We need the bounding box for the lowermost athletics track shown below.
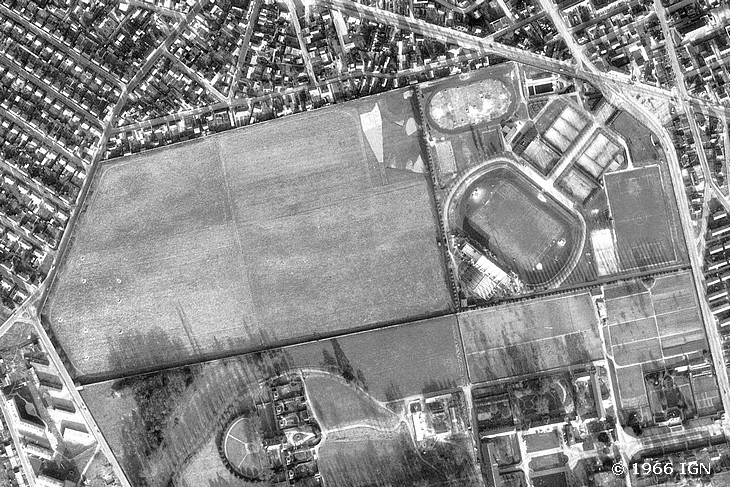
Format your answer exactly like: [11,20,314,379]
[460,173,573,277]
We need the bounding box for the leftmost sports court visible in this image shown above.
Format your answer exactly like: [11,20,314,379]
[433,138,460,176]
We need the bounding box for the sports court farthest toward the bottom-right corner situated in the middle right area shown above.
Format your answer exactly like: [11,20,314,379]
[588,225,620,280]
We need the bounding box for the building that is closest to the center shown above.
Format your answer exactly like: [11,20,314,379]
[460,265,497,299]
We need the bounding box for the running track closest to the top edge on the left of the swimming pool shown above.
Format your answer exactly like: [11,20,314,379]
[423,71,517,137]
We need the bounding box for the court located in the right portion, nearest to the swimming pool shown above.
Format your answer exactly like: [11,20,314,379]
[540,103,592,156]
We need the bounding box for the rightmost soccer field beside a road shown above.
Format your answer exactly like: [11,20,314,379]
[605,165,677,272]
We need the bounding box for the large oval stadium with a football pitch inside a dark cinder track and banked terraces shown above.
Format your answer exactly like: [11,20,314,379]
[451,163,582,287]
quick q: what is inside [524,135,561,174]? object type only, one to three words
sports court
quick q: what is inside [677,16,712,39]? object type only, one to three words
shed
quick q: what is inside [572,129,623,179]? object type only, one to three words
sports court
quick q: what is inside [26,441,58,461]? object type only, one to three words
building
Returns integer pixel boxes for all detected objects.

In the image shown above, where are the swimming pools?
[525,76,557,98]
